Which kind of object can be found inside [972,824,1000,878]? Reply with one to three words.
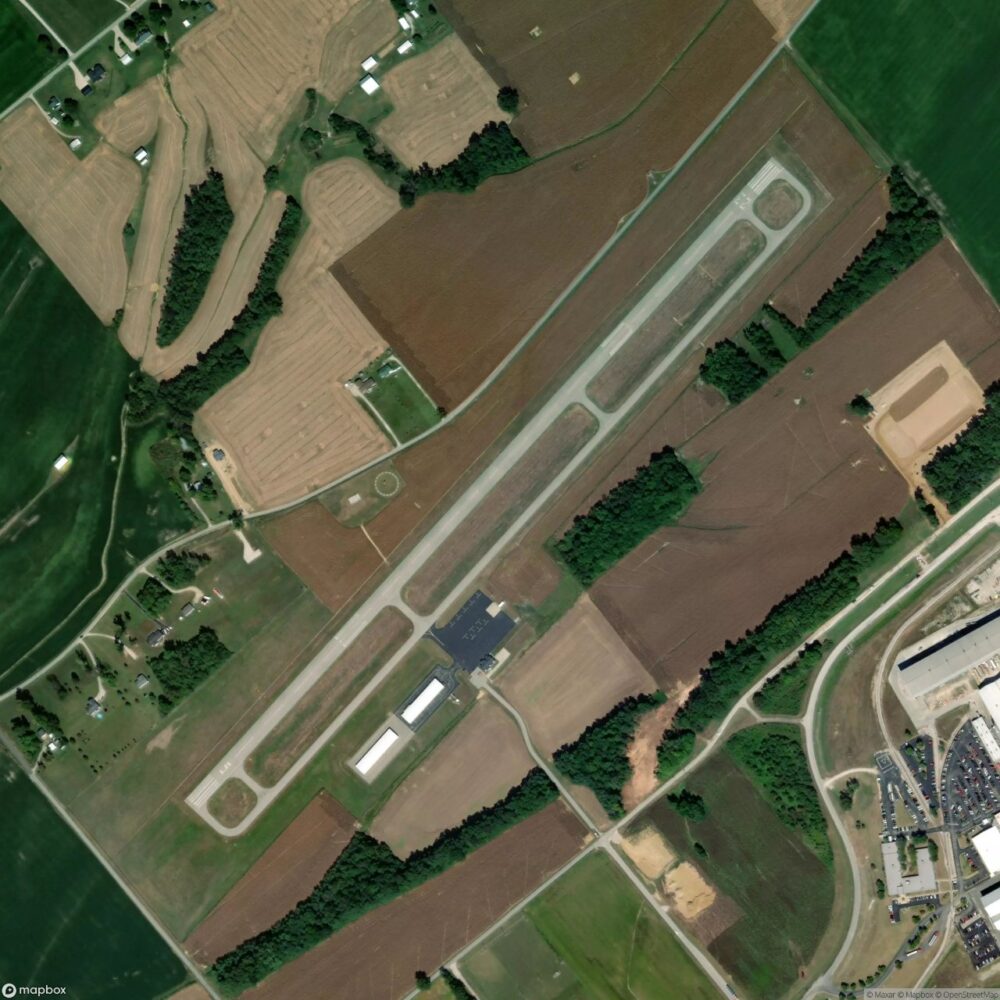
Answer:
building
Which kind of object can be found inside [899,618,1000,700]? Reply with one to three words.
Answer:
building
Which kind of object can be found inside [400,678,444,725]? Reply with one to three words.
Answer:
hangar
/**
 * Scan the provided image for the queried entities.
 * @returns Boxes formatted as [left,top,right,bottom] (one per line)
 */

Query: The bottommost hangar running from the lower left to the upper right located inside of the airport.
[355,729,398,774]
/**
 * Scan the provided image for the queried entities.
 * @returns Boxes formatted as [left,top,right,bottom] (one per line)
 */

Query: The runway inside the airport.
[185,157,784,812]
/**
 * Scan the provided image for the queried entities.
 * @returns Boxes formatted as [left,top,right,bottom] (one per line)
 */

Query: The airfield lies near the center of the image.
[162,131,835,836]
